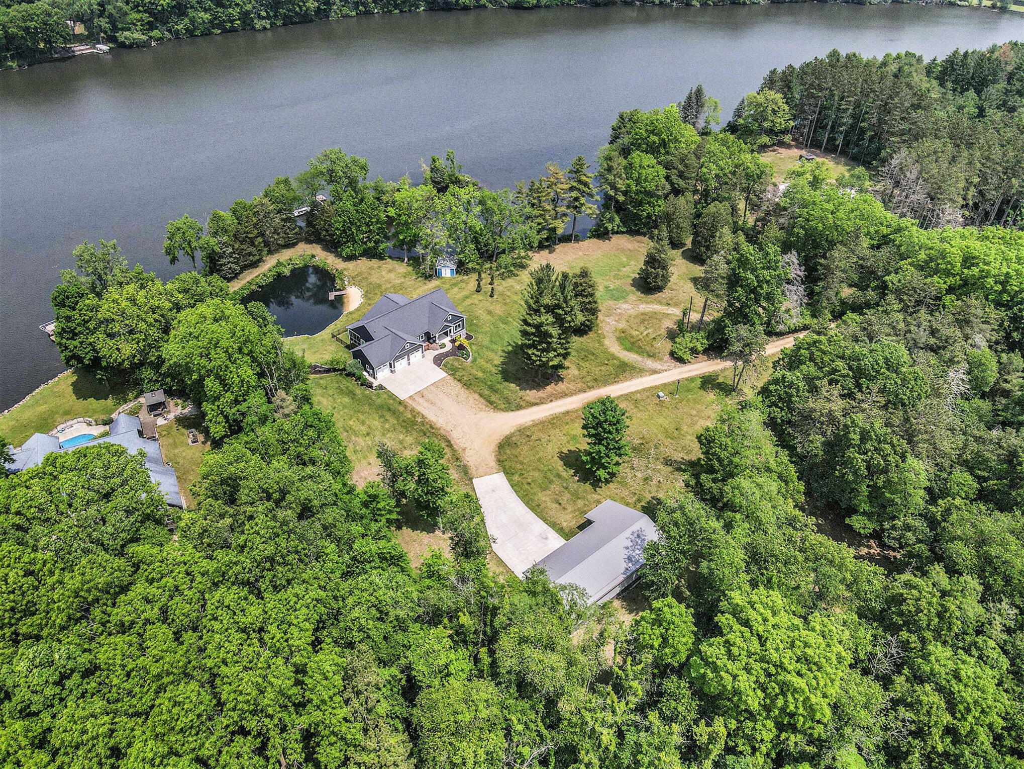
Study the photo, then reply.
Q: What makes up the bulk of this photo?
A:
trees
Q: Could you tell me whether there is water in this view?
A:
Yes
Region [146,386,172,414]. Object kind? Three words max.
building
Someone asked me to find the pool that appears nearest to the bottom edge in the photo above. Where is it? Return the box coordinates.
[60,433,96,446]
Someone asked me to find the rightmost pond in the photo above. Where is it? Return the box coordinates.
[249,267,341,337]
